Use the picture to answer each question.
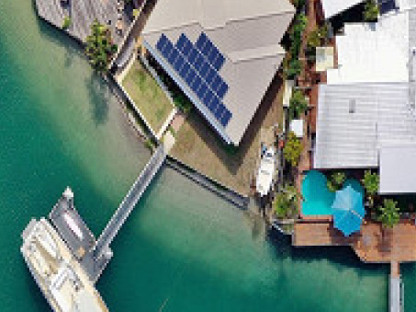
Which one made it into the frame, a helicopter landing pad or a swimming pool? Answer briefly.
swimming pool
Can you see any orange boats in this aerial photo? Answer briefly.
No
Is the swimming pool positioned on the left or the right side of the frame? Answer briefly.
right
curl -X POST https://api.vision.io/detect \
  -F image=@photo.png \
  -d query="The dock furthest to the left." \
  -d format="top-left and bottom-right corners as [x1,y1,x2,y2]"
[51,188,114,282]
